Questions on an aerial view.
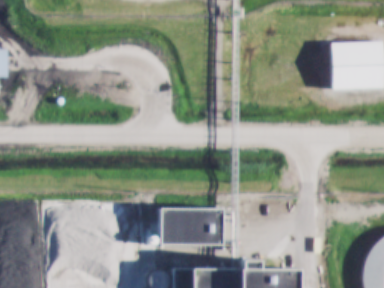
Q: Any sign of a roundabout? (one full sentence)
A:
No, there appears to be no roundabout in this shot.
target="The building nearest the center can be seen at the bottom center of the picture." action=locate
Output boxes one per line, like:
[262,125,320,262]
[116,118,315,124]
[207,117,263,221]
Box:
[160,207,234,246]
